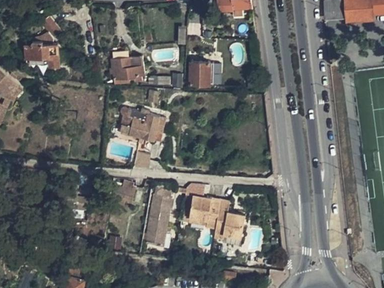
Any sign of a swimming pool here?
Yes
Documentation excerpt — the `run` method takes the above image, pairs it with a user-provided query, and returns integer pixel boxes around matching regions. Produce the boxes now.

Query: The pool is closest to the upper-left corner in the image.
[152,46,179,64]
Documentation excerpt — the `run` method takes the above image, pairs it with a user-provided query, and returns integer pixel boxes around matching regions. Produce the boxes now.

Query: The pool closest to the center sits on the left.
[108,138,138,164]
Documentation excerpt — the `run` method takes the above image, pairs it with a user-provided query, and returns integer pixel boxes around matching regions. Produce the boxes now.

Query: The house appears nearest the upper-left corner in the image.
[24,16,61,68]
